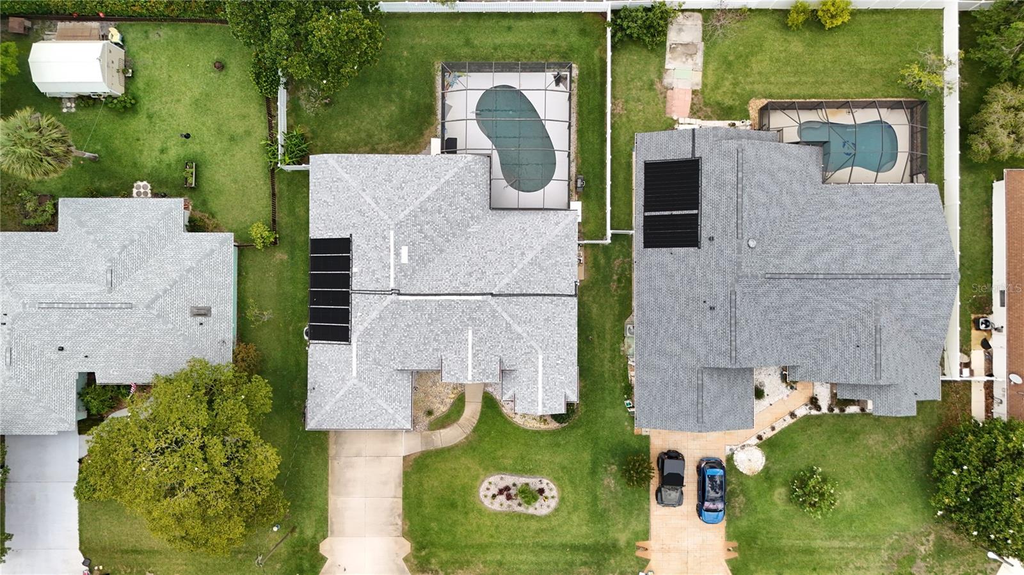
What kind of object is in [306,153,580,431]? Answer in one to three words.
house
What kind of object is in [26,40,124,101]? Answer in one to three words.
shed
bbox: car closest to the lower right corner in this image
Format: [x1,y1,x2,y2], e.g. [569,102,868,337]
[696,455,731,523]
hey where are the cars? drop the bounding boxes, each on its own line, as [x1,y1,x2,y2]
[696,455,731,523]
[656,447,691,506]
